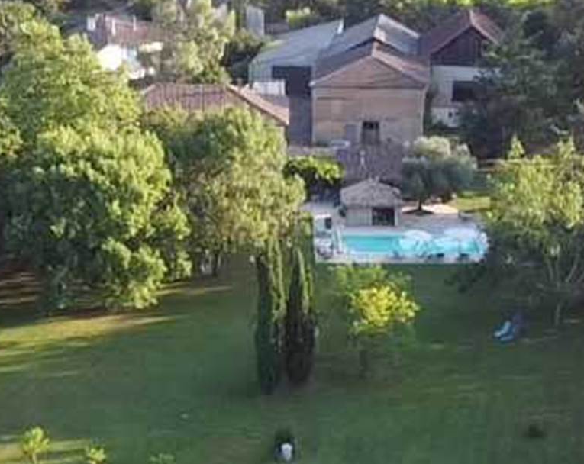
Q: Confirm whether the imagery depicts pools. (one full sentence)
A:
Yes, I can see a pool in this picture.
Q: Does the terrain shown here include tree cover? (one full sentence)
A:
Yes, there is tree cover in the image.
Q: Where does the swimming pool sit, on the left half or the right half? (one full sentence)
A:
The swimming pool appears in the right half of the scene.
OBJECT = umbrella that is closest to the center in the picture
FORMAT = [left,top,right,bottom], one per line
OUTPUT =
[397,227,436,255]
